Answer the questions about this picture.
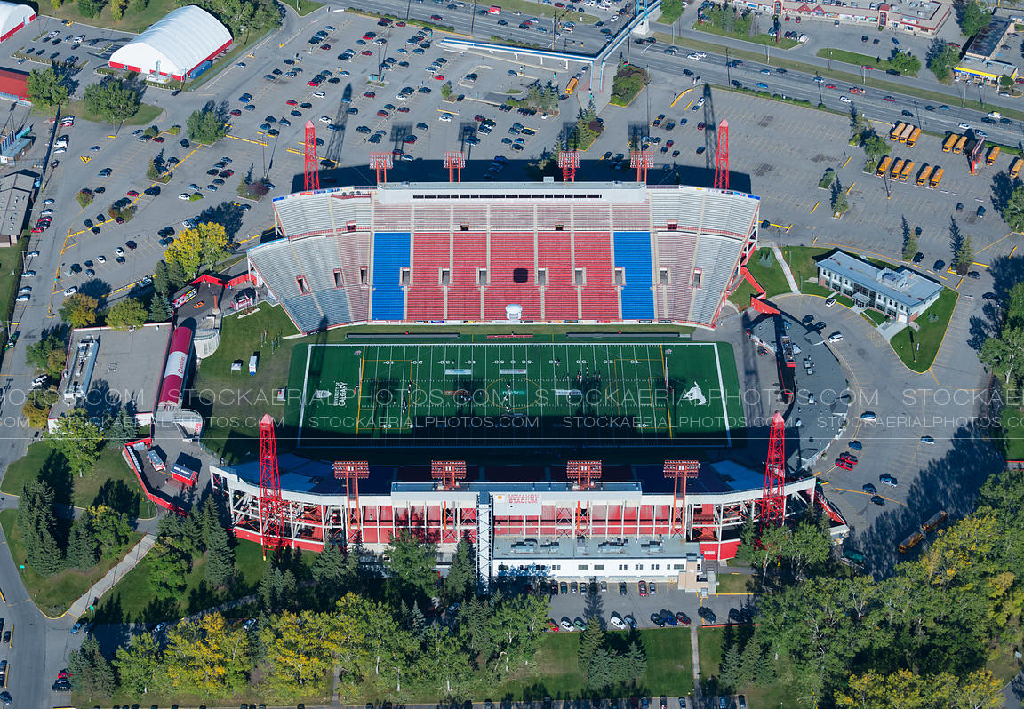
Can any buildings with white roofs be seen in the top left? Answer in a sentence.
Yes, you'll find a building with a white roof in the top left.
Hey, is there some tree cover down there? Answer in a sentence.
Yes, there's tree cover in this view.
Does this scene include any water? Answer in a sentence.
No, water can't be seen anywhere here.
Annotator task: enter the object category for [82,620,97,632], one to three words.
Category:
vehicle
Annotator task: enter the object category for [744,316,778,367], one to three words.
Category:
building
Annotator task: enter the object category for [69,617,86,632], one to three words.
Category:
vehicle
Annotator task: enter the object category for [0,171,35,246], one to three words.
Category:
building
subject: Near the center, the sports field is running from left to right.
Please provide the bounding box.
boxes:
[278,334,751,456]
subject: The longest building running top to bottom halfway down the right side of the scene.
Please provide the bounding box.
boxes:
[774,313,849,475]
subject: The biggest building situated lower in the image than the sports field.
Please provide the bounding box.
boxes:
[489,534,718,594]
